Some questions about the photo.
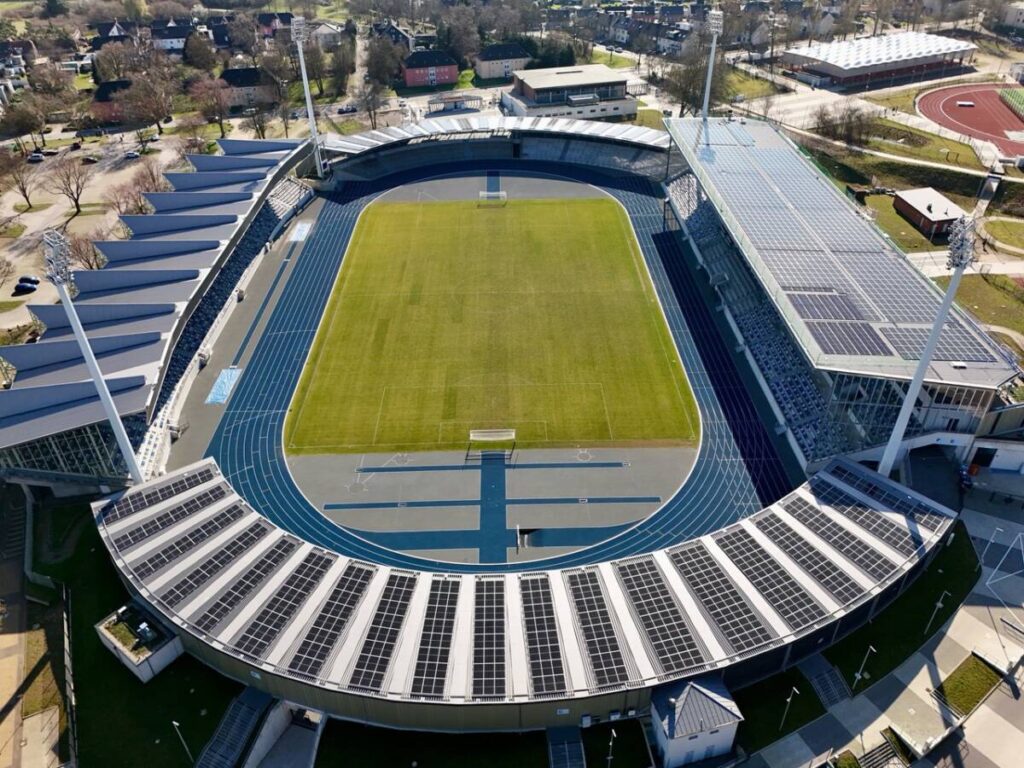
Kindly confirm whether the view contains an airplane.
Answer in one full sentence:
No, there isn't any airplane down there.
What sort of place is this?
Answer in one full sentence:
This looks like a sports ground.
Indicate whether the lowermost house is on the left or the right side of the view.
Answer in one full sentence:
The lowermost house appears in the right half of the scene.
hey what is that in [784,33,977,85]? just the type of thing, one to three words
building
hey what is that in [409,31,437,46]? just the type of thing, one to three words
shed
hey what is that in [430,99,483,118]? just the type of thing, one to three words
building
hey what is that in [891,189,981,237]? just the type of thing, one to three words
house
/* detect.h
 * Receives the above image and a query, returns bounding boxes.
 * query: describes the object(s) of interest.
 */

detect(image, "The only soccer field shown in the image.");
[286,198,699,456]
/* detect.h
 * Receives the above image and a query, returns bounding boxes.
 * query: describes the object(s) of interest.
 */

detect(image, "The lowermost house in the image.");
[648,663,746,765]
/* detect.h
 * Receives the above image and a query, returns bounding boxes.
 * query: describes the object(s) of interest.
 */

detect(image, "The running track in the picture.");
[204,158,798,575]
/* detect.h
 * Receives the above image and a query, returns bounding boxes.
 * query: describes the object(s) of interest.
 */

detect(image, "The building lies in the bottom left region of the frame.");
[94,602,186,684]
